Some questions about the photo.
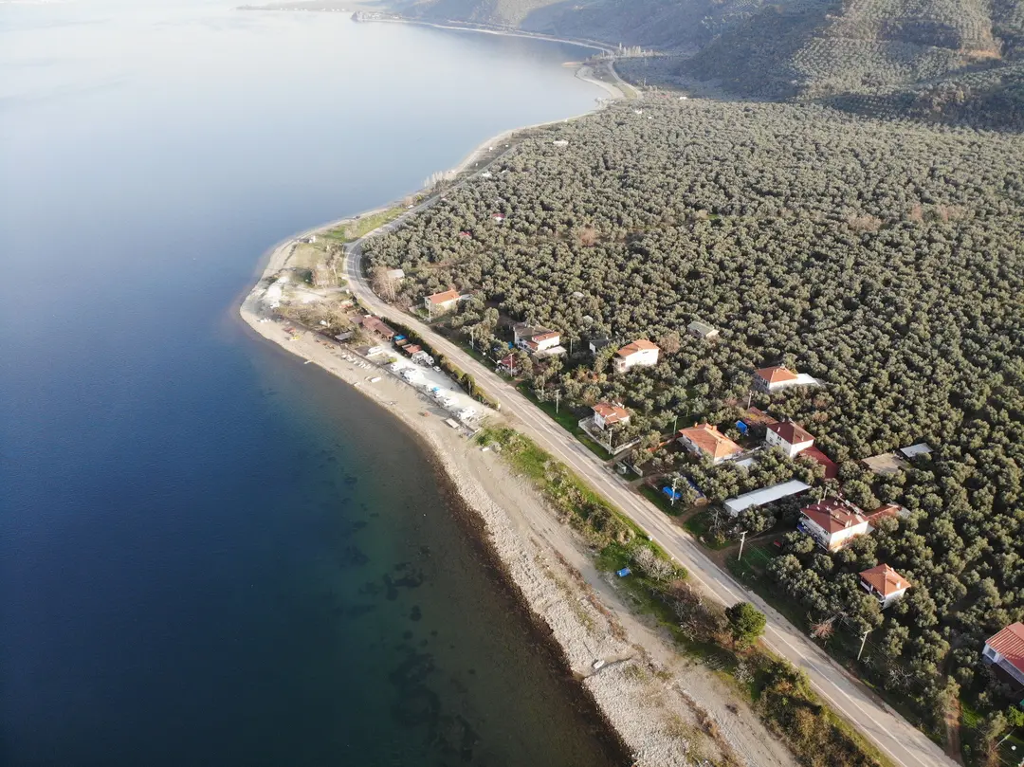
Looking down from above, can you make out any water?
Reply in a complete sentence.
Yes, there is water in the image.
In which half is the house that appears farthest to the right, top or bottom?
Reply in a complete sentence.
You can find the house that appears farthest to the right in the bottom half.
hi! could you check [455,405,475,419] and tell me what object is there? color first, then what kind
white camper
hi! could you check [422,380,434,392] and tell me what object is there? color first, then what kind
white vehicle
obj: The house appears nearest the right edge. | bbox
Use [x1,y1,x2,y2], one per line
[979,628,1024,697]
